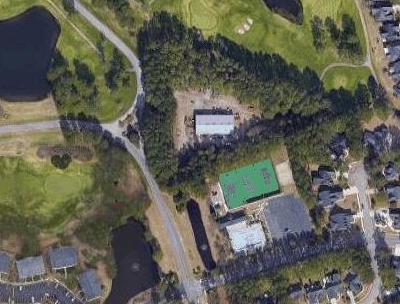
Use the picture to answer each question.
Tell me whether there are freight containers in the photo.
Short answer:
No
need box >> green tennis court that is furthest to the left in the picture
[220,170,247,208]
